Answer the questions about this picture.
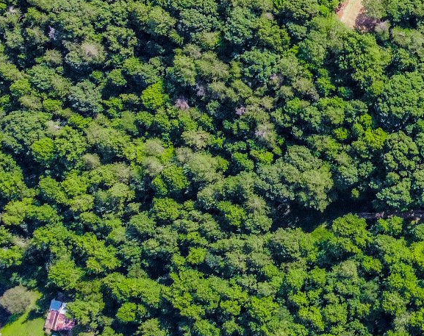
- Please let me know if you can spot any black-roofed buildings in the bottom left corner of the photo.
No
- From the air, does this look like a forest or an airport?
forest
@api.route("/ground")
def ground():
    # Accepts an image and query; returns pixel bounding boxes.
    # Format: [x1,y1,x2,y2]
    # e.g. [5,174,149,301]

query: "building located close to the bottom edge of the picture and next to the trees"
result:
[45,298,75,332]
